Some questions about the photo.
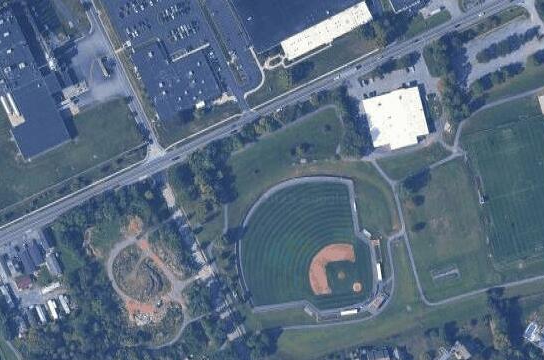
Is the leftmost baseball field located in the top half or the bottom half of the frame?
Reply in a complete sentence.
You can find the leftmost baseball field in the bottom half.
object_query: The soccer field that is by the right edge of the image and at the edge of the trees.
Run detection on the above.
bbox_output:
[475,124,544,260]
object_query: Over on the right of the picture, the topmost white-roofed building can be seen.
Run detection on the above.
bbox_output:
[281,1,372,60]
